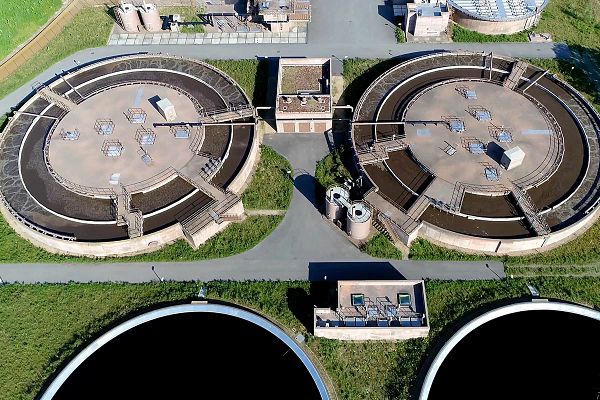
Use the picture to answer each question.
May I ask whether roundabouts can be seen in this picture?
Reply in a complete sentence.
No, I can see no roundabout in this picture.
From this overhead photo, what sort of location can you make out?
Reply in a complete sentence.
The area seen from above is an industrial area.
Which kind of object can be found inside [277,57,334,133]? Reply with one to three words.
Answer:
building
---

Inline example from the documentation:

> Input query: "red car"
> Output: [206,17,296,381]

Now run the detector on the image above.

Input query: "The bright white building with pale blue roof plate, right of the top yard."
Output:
[405,0,452,38]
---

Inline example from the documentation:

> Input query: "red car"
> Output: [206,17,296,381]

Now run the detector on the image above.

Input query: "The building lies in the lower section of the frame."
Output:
[314,281,430,338]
